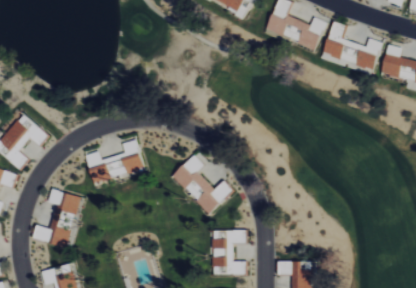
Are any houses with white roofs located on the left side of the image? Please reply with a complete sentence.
Yes, a house with a white roof appears on the left side of the image.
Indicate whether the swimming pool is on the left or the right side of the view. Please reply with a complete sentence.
It is on the left.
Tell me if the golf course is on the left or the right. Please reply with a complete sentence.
The golf course appears in the right half of the scene.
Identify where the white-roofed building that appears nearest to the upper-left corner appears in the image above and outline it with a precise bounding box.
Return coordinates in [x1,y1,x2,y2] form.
[0,110,50,170]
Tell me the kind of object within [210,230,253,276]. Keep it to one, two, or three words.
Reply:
house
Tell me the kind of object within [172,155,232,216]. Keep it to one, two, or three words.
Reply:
house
